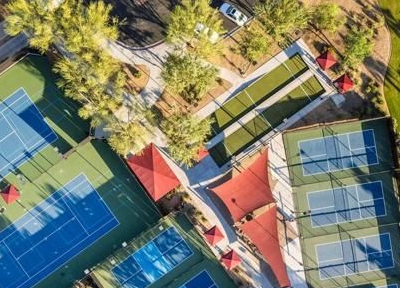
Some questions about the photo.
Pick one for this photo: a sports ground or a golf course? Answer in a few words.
sports ground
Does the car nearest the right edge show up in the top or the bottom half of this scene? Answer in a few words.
top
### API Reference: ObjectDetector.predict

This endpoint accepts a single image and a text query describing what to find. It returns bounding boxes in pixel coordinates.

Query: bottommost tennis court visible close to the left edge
[0,140,155,288]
